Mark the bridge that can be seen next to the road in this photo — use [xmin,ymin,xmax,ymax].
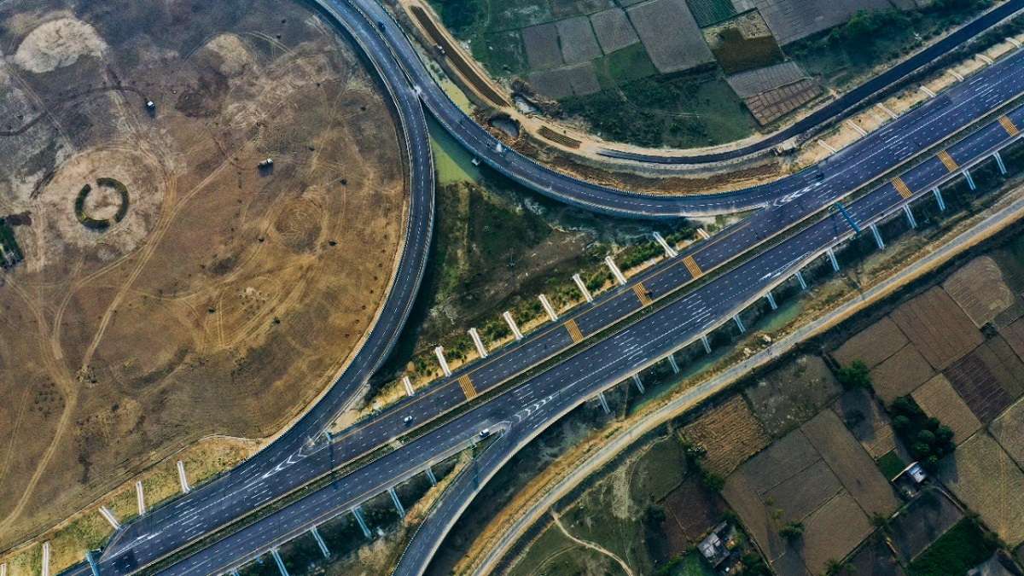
[351,0,854,220]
